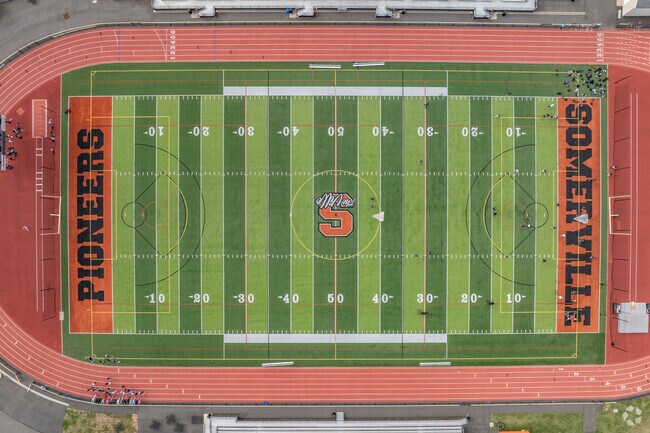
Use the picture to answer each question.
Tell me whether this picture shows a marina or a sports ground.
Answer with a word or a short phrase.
sports ground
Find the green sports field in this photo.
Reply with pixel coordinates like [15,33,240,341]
[62,62,606,366]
